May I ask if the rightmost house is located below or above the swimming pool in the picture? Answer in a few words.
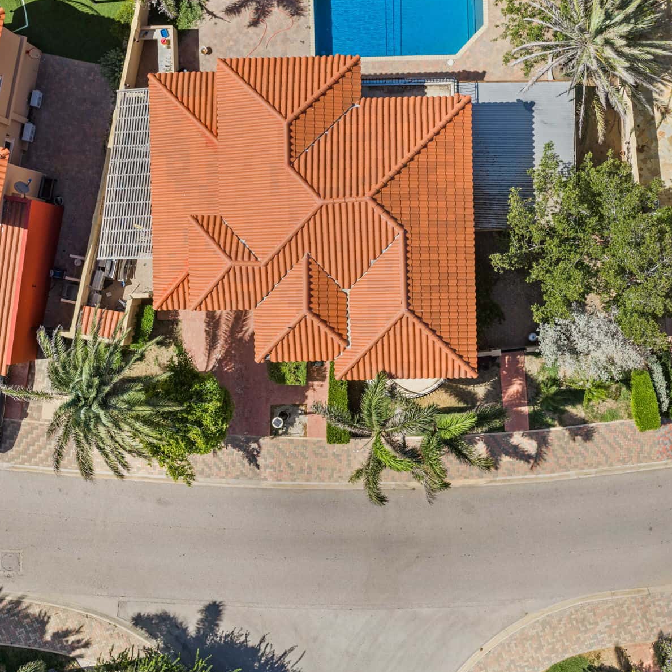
below it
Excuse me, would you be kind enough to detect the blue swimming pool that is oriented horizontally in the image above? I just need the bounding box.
[310,0,489,60]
